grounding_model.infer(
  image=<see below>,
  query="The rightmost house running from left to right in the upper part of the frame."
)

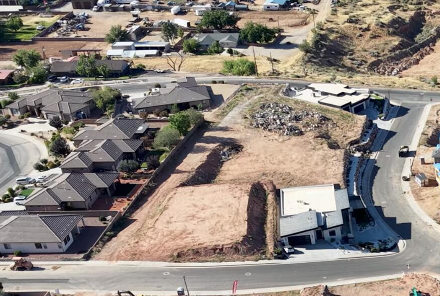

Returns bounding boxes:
[306,84,371,115]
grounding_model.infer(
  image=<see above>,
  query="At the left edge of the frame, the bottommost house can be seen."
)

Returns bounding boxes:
[0,211,92,252]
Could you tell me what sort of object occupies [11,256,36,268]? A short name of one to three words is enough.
vehicle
